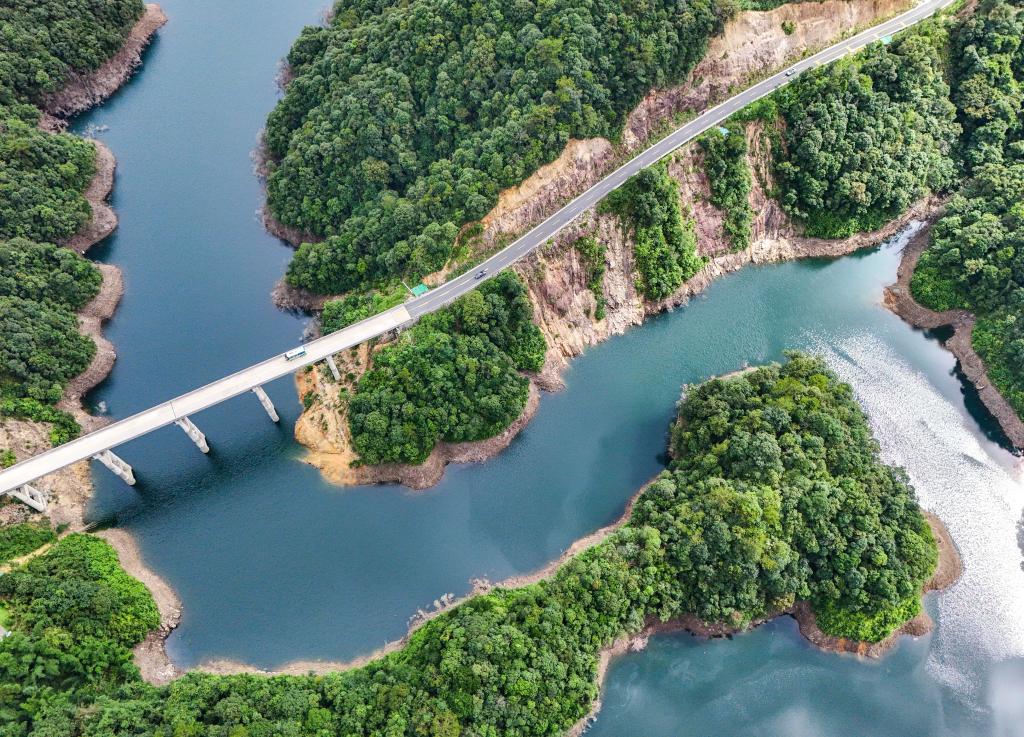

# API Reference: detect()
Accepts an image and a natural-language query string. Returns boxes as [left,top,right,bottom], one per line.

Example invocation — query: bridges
[0,302,413,516]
